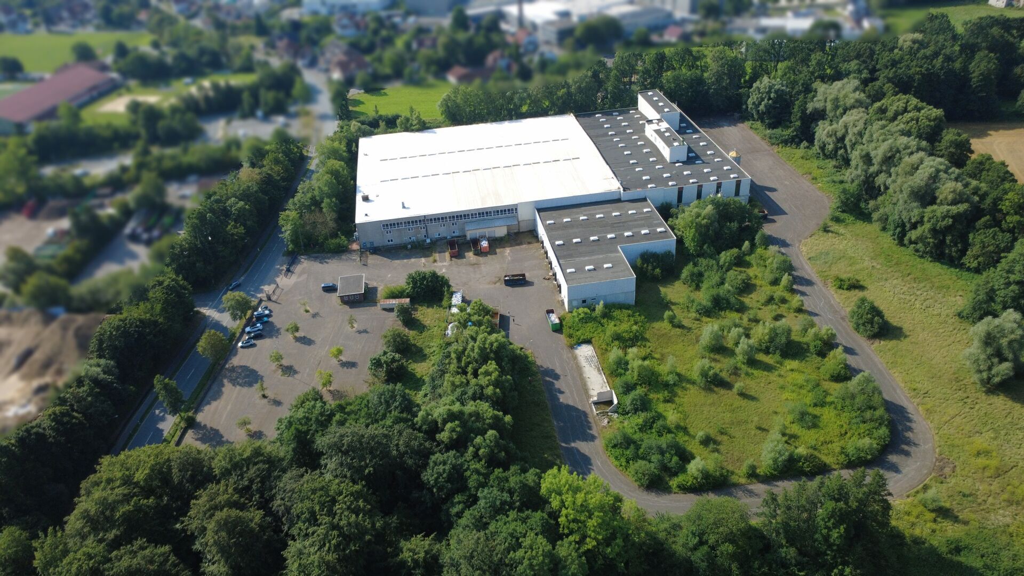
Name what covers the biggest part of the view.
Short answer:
trees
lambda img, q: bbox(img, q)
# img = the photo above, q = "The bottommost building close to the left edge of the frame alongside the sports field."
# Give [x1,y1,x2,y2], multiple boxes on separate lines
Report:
[0,64,118,127]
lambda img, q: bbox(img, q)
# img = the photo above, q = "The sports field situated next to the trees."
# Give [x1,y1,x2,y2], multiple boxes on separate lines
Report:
[0,33,155,73]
